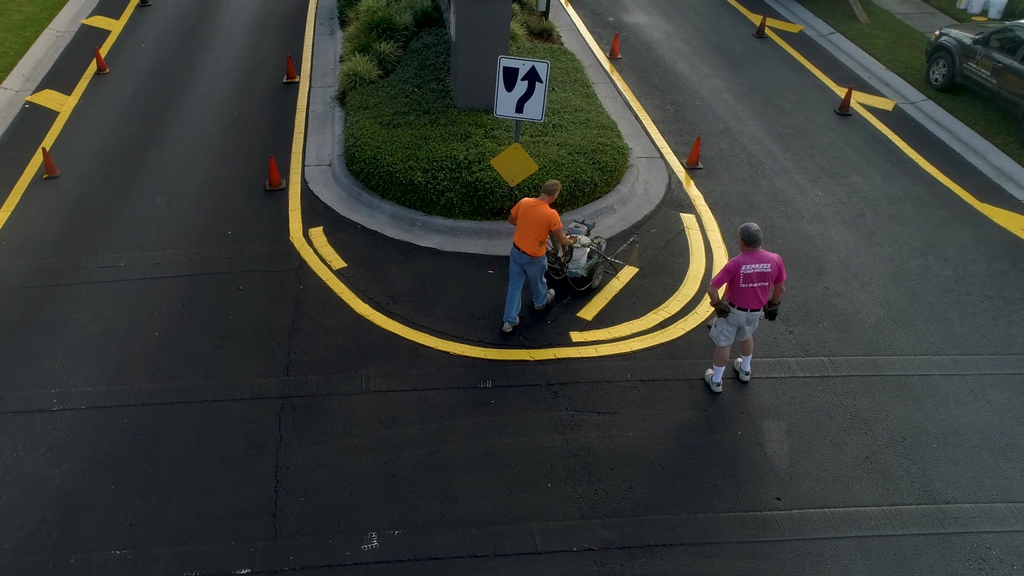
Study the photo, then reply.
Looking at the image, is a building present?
No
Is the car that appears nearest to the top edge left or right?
right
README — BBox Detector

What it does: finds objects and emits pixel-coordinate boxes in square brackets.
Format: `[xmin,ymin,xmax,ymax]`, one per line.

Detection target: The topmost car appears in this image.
[915,14,1024,121]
